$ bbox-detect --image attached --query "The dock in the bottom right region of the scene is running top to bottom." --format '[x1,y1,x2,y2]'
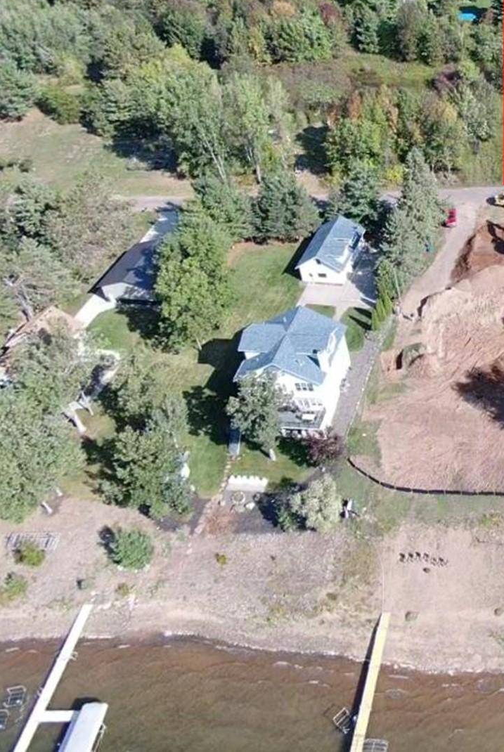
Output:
[352,615,392,752]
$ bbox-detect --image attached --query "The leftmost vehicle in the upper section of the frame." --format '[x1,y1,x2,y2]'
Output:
[445,206,458,227]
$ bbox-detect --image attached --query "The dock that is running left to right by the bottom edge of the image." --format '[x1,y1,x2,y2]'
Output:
[45,710,78,724]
